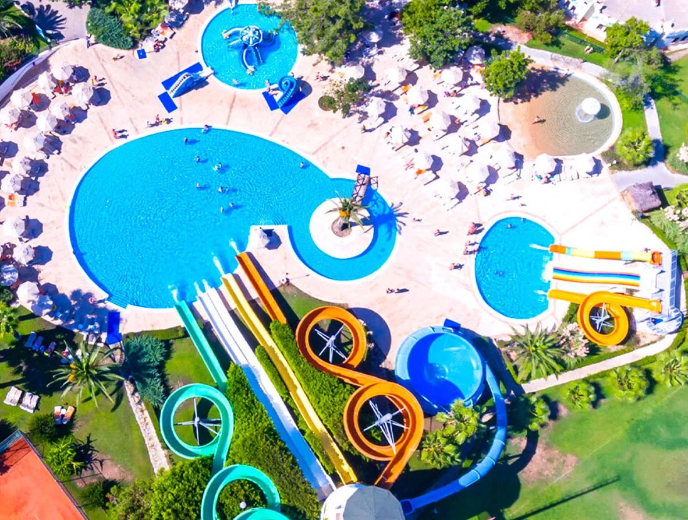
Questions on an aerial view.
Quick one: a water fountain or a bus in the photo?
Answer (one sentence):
The one in the frame is a water fountain.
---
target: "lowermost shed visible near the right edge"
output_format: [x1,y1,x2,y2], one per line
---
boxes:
[619,182,659,215]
